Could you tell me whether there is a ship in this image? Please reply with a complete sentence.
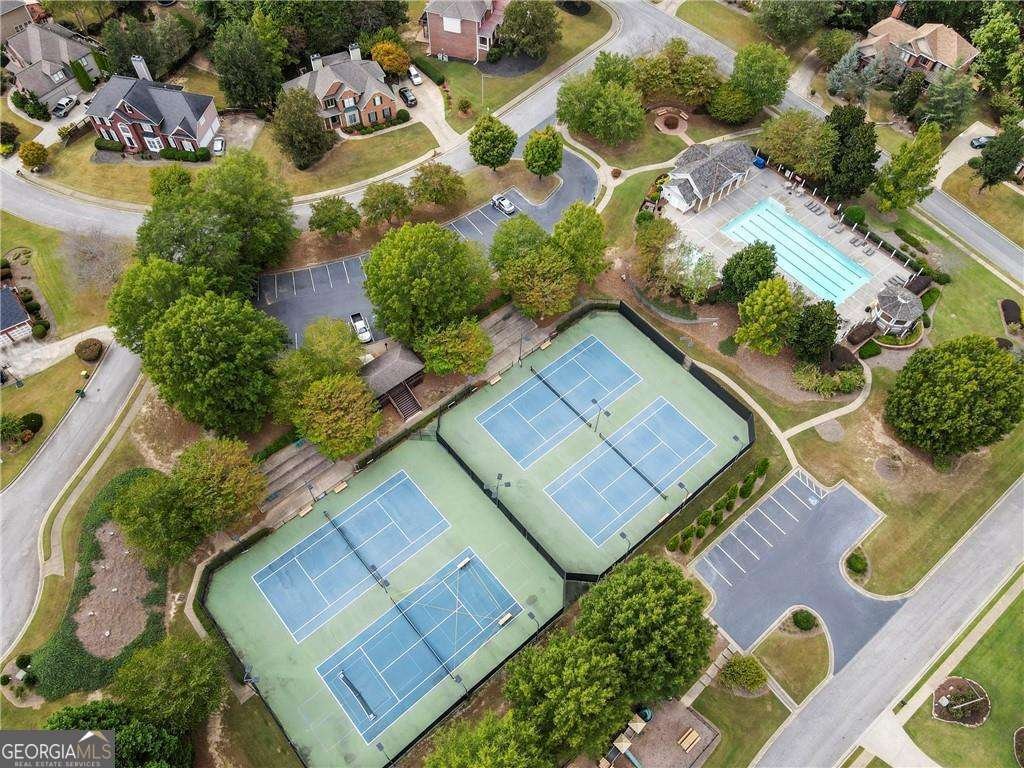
No, I can't see a single ship in this photo.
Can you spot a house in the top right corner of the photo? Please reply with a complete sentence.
Yes, there is a house in the top right corner of the photo.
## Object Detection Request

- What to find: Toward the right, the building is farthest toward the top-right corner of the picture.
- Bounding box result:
[852,0,975,85]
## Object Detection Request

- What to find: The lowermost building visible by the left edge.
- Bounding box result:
[0,279,34,345]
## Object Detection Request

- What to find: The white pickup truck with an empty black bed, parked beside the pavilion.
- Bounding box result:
[346,312,372,345]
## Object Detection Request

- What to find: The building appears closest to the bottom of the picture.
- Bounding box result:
[348,341,425,426]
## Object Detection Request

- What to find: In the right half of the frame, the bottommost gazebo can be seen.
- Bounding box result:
[872,285,925,332]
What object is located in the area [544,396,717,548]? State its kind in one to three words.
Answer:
tennis court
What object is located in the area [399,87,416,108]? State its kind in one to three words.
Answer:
car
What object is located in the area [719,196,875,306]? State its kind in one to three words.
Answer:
swimming pool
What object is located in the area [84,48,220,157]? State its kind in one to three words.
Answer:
house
